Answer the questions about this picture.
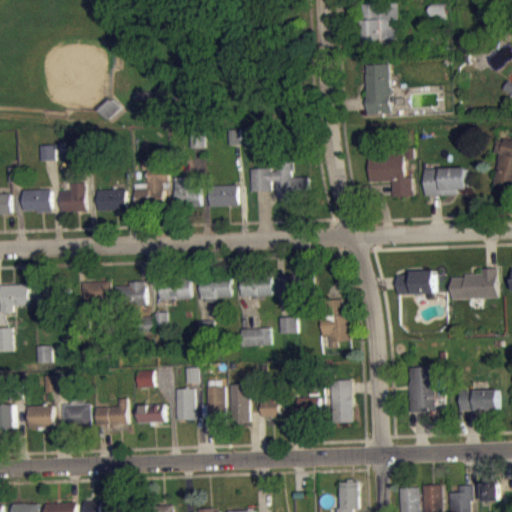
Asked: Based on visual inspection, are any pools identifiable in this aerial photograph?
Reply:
Yes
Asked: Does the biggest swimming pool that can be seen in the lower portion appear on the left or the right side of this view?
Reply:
right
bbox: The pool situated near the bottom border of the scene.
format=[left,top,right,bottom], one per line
[320,494,340,509]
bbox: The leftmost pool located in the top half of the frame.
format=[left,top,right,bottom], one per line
[390,86,444,116]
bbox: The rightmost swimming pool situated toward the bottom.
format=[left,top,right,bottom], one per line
[414,293,448,324]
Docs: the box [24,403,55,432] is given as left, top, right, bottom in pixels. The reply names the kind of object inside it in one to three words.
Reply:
house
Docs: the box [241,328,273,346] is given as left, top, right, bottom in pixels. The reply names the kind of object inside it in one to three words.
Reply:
building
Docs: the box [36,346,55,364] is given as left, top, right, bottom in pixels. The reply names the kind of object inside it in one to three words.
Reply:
shed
